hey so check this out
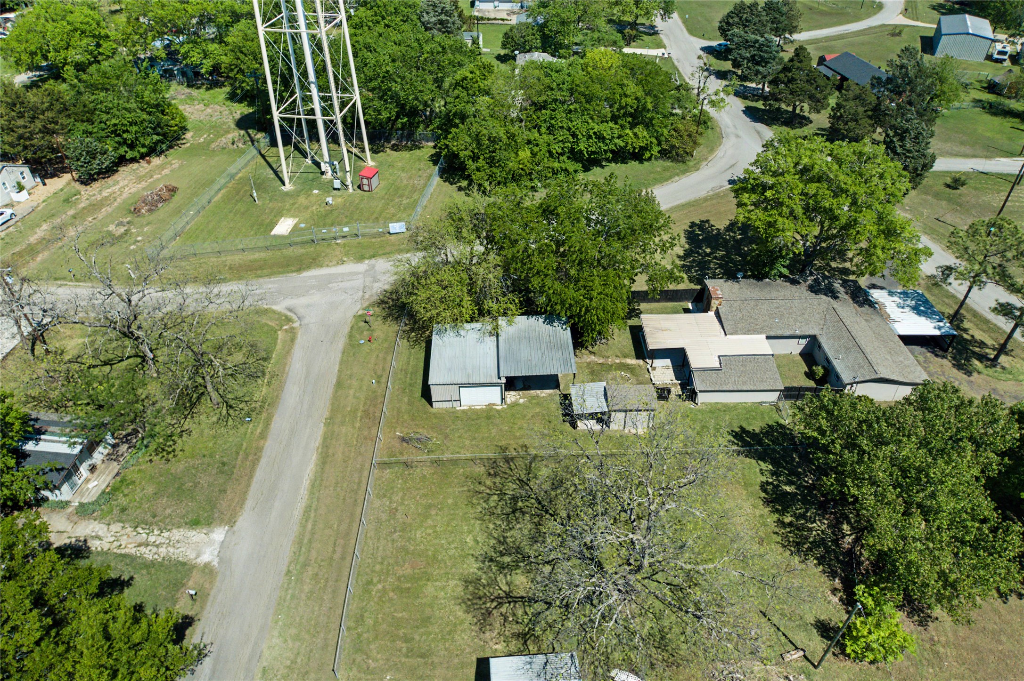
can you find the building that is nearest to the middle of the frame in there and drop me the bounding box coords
[428,315,576,408]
